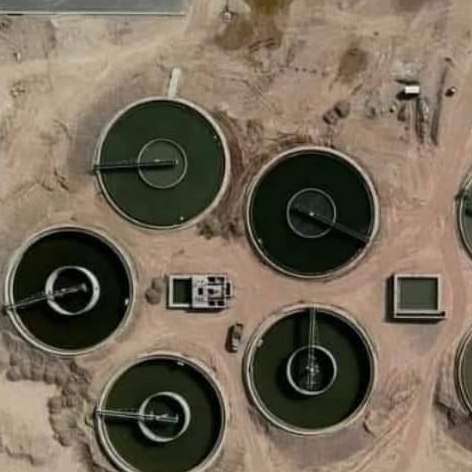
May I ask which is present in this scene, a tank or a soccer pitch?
tank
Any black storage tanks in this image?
Yes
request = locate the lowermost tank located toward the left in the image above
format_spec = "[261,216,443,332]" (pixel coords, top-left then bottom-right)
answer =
[92,352,229,472]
